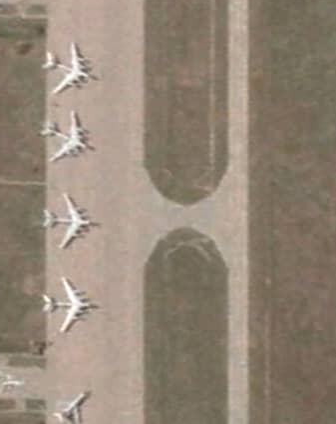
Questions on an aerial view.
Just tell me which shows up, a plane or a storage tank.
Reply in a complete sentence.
Visible in the photo is a plane.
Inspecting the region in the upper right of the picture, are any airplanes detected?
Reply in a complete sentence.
No, the scene shows no airplane in the upper right of the picture.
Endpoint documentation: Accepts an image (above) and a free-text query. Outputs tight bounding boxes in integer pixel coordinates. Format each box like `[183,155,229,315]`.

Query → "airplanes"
[44,278,97,332]
[44,111,93,161]
[52,393,87,424]
[45,193,98,247]
[46,42,95,93]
